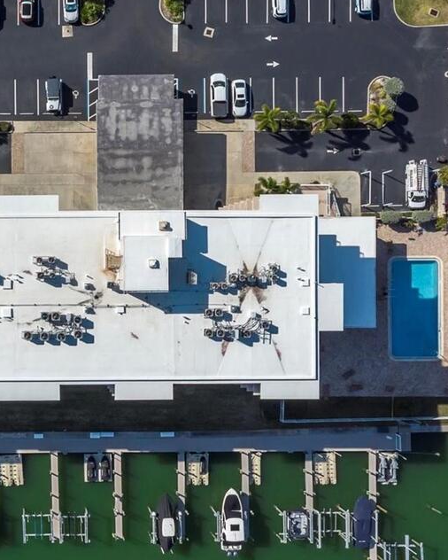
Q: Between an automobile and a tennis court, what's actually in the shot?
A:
automobile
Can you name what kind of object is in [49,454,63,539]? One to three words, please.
pier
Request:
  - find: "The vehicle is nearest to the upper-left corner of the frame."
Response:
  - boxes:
[19,0,35,25]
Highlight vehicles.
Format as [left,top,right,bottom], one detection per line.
[210,75,228,120]
[45,75,62,113]
[272,0,288,21]
[62,0,79,24]
[354,0,371,18]
[19,0,35,25]
[404,157,430,208]
[231,81,248,118]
